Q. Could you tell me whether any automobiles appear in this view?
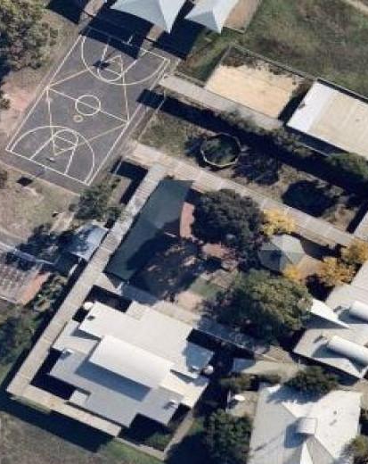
No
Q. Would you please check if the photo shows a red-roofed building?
No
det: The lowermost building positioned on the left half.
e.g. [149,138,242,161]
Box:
[48,301,214,427]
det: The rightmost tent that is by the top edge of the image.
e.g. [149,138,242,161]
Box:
[183,0,234,36]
